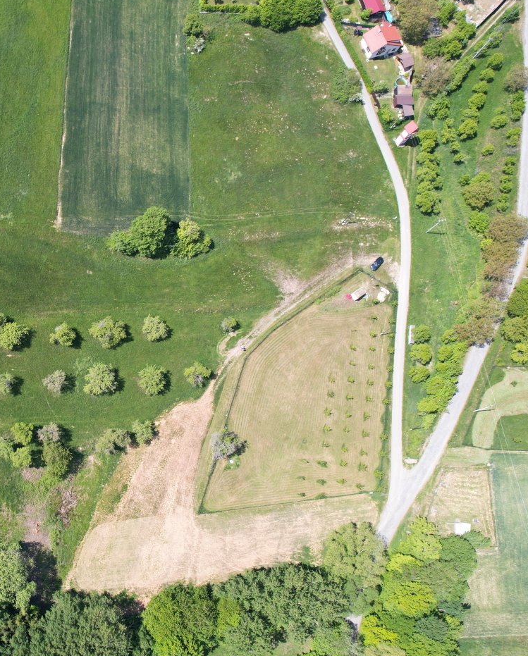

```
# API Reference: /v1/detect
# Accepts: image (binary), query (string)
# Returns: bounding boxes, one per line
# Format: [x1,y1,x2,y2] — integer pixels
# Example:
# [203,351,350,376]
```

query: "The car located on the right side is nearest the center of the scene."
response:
[370,256,384,271]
